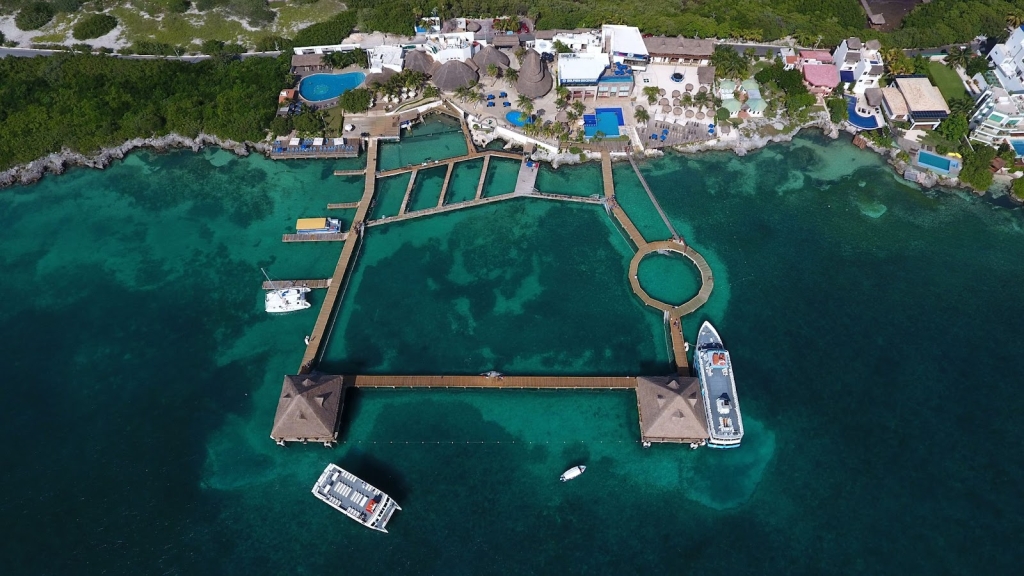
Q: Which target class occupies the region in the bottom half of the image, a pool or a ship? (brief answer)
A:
ship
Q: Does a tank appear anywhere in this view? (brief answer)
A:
No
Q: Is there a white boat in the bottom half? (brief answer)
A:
Yes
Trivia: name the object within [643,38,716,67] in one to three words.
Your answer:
building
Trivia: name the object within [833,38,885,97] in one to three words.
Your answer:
house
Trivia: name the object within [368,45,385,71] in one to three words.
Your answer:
house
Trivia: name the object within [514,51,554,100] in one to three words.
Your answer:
shed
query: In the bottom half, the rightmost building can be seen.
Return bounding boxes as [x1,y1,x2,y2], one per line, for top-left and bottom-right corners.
[634,376,708,445]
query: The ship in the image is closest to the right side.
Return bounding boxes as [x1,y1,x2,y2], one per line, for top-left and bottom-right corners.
[695,319,745,449]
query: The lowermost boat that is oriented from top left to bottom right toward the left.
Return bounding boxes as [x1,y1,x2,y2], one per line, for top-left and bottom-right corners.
[311,463,400,530]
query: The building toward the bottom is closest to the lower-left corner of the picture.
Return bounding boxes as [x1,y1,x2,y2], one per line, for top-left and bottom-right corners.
[270,375,348,444]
